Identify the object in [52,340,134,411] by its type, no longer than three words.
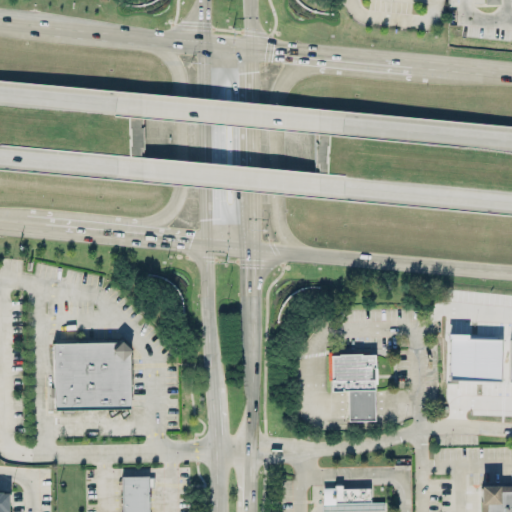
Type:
building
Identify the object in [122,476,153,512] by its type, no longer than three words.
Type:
building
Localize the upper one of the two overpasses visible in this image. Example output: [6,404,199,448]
[116,90,344,136]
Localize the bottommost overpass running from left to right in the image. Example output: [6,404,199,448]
[116,155,344,200]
